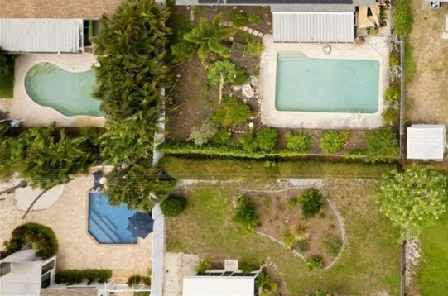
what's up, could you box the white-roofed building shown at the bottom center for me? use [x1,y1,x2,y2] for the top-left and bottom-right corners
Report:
[183,259,269,296]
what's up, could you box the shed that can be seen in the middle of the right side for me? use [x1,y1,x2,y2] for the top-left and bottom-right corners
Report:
[406,124,445,160]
